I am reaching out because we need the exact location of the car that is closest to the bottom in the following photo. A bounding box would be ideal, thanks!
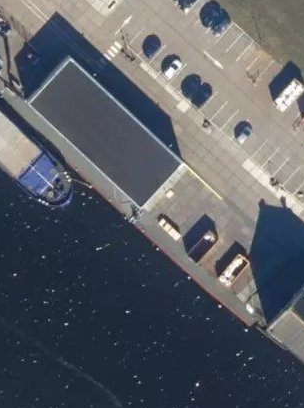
[234,123,255,145]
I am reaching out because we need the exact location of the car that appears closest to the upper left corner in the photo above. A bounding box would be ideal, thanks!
[141,40,160,60]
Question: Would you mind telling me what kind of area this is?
port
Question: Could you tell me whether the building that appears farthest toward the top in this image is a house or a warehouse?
warehouse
